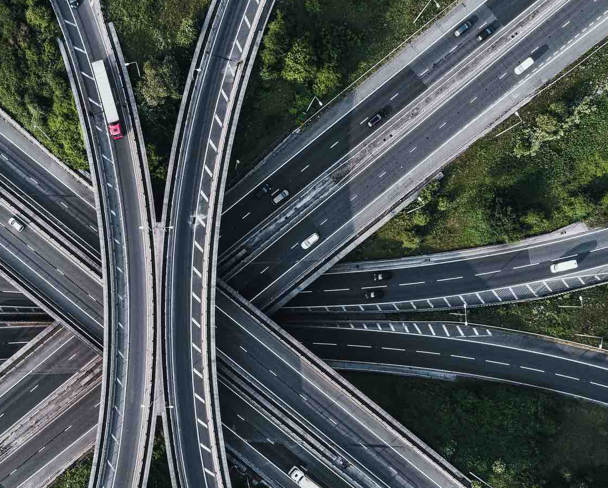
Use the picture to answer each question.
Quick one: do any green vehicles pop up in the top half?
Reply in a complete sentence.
No, the scene shows no green vehicle in the top half.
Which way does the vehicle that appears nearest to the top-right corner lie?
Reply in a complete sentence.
The vehicle that appears nearest to the top-right corner has been laid out at an angle relative to the frame.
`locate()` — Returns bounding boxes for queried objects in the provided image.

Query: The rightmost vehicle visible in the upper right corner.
[510,55,537,77]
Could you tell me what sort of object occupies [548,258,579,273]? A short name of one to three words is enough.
vehicle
